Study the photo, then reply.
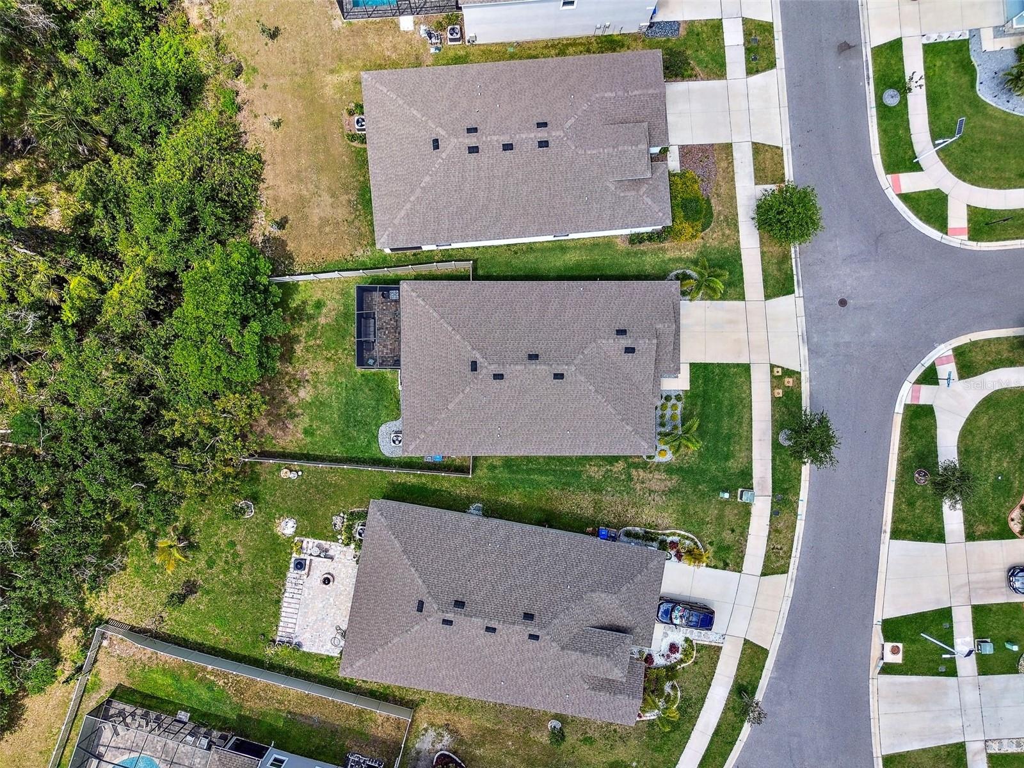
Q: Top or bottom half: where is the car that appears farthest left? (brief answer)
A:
bottom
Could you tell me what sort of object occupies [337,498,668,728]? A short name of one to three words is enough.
house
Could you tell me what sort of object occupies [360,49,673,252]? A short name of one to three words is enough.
house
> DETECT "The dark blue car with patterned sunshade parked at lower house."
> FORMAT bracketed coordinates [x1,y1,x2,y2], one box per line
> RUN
[656,595,714,627]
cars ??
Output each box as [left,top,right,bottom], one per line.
[656,595,714,627]
[1005,568,1024,593]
